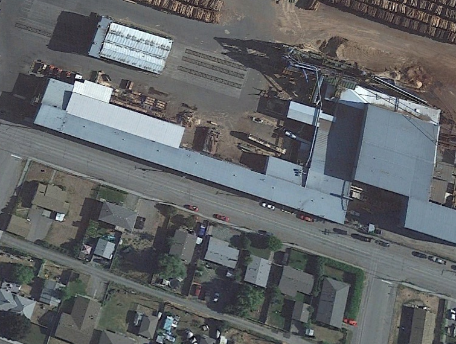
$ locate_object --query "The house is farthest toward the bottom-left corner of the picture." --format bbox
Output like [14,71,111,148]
[0,287,36,317]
